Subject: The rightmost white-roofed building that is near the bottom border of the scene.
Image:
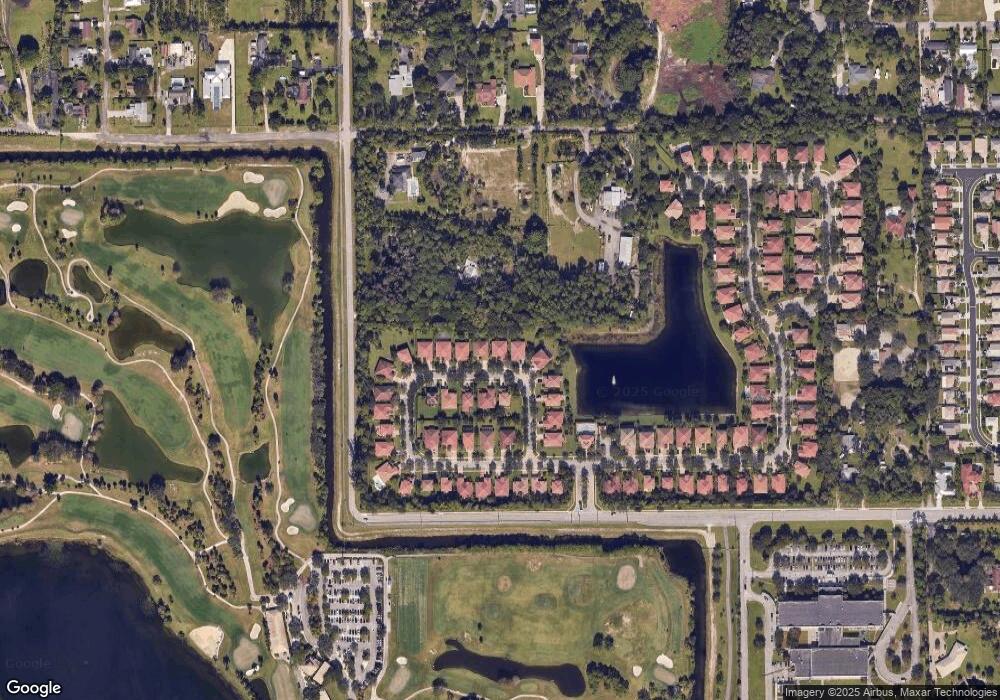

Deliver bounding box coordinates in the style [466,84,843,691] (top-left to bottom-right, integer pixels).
[937,642,968,678]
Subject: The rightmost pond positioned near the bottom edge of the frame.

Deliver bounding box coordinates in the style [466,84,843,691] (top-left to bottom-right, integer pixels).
[433,638,585,697]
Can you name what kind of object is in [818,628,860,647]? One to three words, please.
building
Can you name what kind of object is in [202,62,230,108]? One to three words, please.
house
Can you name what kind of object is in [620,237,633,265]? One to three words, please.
shed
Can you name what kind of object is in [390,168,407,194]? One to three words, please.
house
